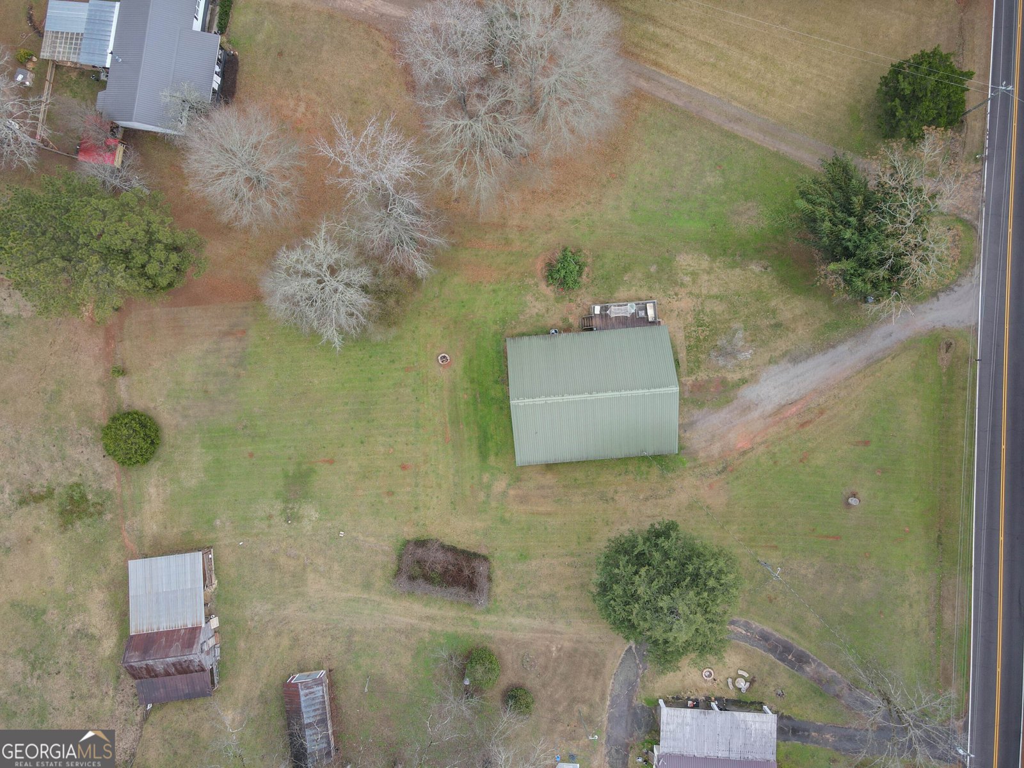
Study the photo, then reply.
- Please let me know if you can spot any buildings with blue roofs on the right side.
No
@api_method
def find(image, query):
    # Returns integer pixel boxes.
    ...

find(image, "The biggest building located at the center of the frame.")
[506,325,679,465]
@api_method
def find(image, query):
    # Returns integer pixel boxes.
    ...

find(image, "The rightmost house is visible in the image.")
[649,697,777,768]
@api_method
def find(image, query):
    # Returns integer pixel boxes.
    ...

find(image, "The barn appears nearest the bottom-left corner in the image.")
[122,549,223,705]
